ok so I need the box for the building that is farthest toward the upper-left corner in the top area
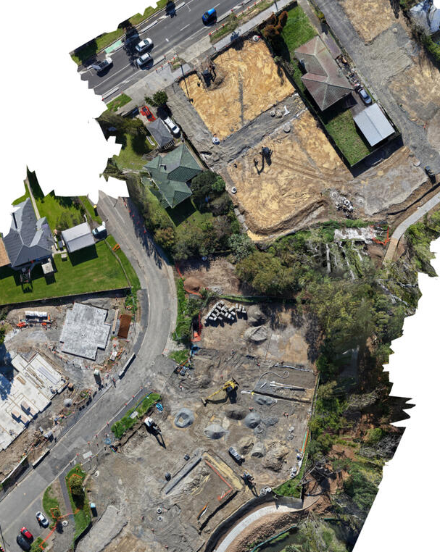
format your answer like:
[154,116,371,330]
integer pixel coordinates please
[146,118,174,149]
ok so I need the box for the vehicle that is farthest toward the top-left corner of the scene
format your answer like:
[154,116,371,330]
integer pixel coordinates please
[94,58,111,73]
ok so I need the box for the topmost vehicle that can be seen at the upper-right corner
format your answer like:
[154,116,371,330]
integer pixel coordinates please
[358,88,371,105]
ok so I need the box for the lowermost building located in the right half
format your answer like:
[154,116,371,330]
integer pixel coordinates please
[354,104,395,147]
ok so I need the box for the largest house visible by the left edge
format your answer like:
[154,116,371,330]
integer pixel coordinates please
[1,199,56,271]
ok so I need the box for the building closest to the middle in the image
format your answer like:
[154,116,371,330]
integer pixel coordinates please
[143,142,200,210]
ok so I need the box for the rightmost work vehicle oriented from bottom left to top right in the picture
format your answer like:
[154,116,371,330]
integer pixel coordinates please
[254,142,272,170]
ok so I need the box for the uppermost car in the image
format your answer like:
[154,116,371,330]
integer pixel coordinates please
[202,10,217,24]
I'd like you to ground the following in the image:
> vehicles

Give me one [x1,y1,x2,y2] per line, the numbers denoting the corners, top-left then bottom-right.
[20,526,33,540]
[254,142,272,170]
[17,534,31,551]
[140,105,154,122]
[90,226,109,237]
[227,446,245,463]
[94,58,111,73]
[202,10,217,24]
[242,469,256,488]
[358,88,371,105]
[203,378,242,401]
[136,39,152,52]
[137,54,151,66]
[201,62,217,80]
[165,117,179,134]
[142,415,165,436]
[421,165,436,178]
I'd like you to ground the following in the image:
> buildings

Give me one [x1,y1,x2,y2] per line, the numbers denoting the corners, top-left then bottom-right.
[62,223,95,252]
[293,33,353,111]
[411,0,440,39]
[1,199,56,271]
[146,118,174,149]
[143,142,200,210]
[354,104,395,147]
